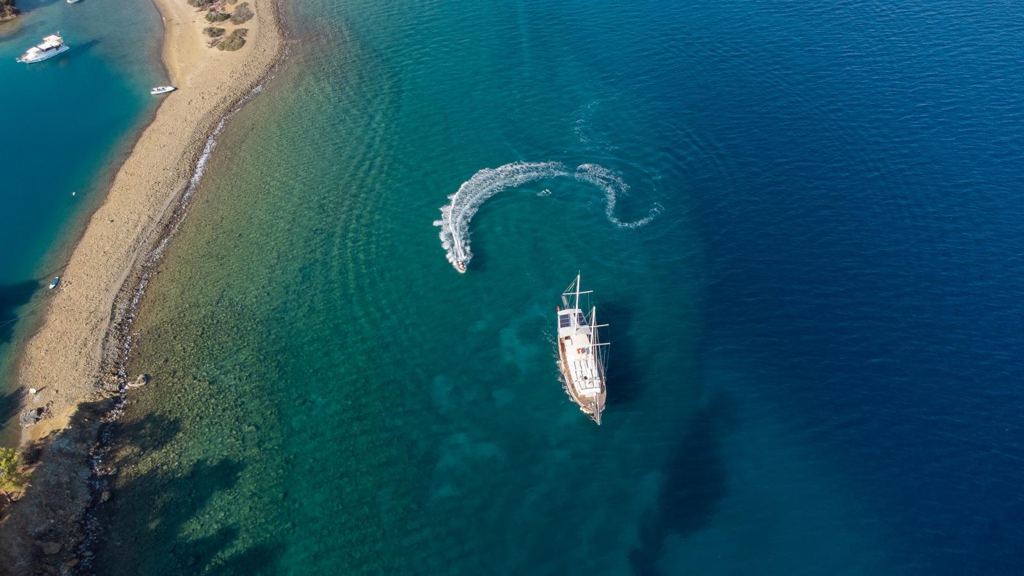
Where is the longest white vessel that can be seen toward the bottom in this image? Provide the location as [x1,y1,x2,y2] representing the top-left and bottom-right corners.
[553,275,609,426]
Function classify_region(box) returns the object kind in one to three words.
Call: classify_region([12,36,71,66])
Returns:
boat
